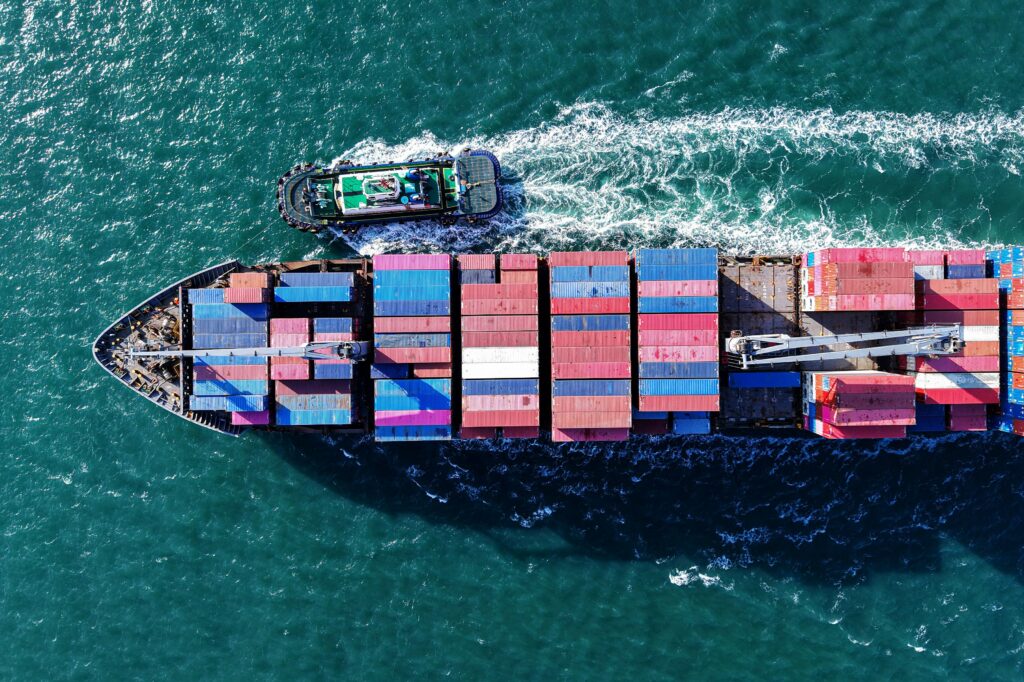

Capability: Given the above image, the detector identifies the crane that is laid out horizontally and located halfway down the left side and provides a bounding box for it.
[127,333,374,363]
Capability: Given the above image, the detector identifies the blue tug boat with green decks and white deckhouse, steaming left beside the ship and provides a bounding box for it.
[278,150,504,233]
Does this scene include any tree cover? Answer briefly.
No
